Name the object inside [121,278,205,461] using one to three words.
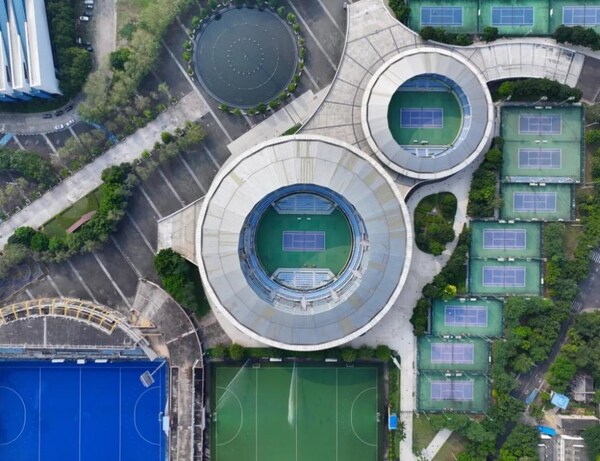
building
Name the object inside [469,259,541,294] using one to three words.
tennis court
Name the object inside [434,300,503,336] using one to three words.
tennis court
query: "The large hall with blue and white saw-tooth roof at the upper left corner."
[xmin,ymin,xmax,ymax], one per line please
[0,0,63,104]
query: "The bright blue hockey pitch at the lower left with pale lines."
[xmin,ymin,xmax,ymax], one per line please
[0,361,169,461]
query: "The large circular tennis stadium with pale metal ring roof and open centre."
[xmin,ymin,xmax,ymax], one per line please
[196,135,412,350]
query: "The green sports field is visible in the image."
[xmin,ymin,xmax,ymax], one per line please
[212,363,379,461]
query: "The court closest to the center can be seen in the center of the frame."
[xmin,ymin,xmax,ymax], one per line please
[255,193,353,291]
